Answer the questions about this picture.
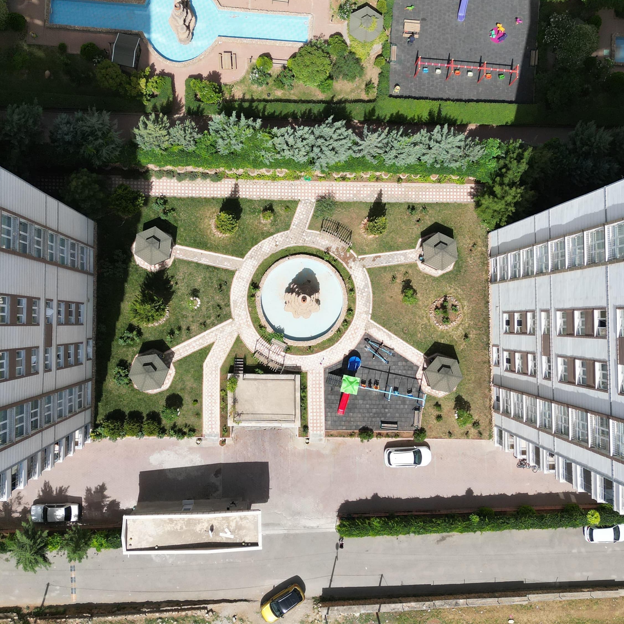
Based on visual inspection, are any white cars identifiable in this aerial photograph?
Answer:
Yes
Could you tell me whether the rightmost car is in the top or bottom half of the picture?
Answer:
bottom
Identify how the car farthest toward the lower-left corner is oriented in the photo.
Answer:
from side to side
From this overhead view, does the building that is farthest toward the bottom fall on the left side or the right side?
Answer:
left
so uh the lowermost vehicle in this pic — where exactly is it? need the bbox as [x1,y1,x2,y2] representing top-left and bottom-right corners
[261,581,306,624]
